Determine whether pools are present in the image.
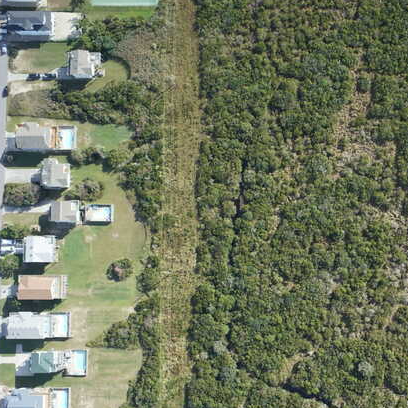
Yes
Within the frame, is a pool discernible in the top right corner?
No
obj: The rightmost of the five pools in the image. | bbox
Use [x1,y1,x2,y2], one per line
[85,205,114,223]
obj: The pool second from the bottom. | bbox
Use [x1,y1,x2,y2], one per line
[66,350,88,376]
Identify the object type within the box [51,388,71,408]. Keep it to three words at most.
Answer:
swimming pool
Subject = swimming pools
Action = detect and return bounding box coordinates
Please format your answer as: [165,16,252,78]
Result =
[51,313,69,339]
[51,388,71,408]
[56,126,77,149]
[85,205,114,223]
[66,350,88,376]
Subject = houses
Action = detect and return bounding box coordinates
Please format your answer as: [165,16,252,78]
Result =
[39,159,77,189]
[51,201,85,224]
[14,122,59,150]
[28,350,67,373]
[11,275,70,301]
[0,11,57,45]
[7,311,54,339]
[66,49,103,80]
[22,236,62,262]
[0,387,54,408]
